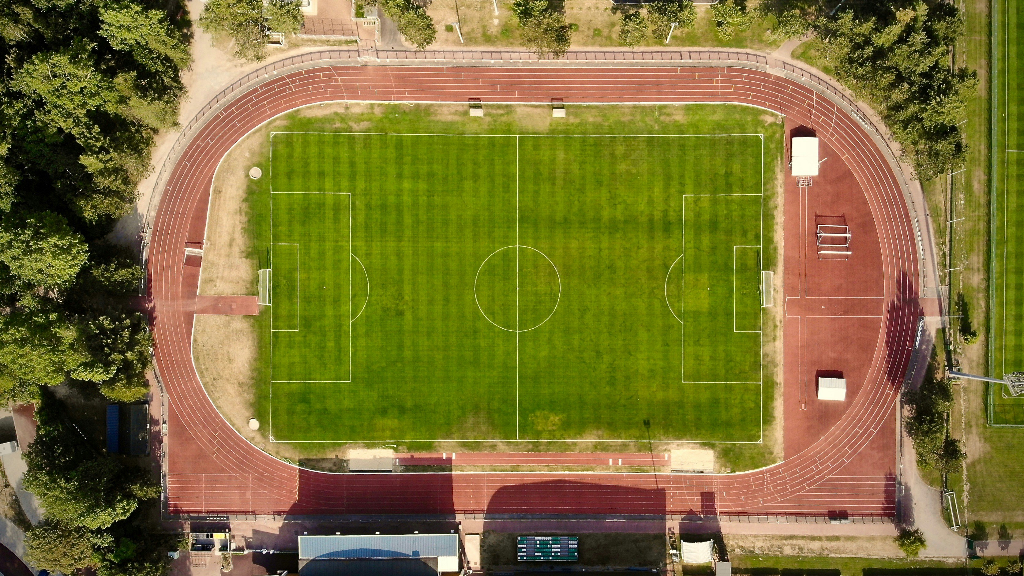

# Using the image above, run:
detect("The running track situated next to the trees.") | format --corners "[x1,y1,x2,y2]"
[146,66,920,518]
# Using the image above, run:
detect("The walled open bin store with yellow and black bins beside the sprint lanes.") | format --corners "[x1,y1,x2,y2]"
[187,533,230,555]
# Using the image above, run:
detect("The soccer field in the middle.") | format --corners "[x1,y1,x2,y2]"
[271,133,763,443]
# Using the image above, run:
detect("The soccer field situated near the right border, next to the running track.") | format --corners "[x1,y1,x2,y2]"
[991,0,1024,429]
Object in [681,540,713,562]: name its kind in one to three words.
shed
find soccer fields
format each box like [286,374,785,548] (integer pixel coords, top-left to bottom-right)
[271,133,763,443]
[991,0,1024,429]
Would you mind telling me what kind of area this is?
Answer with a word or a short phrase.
sports ground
